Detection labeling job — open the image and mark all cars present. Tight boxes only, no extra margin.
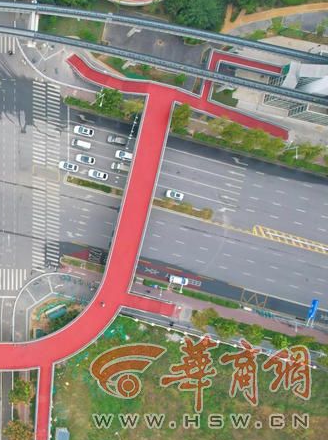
[72,138,93,149]
[107,134,128,145]
[116,149,132,161]
[73,125,94,137]
[164,189,185,200]
[87,169,109,181]
[59,161,80,173]
[167,275,189,286]
[111,160,129,172]
[75,154,96,165]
